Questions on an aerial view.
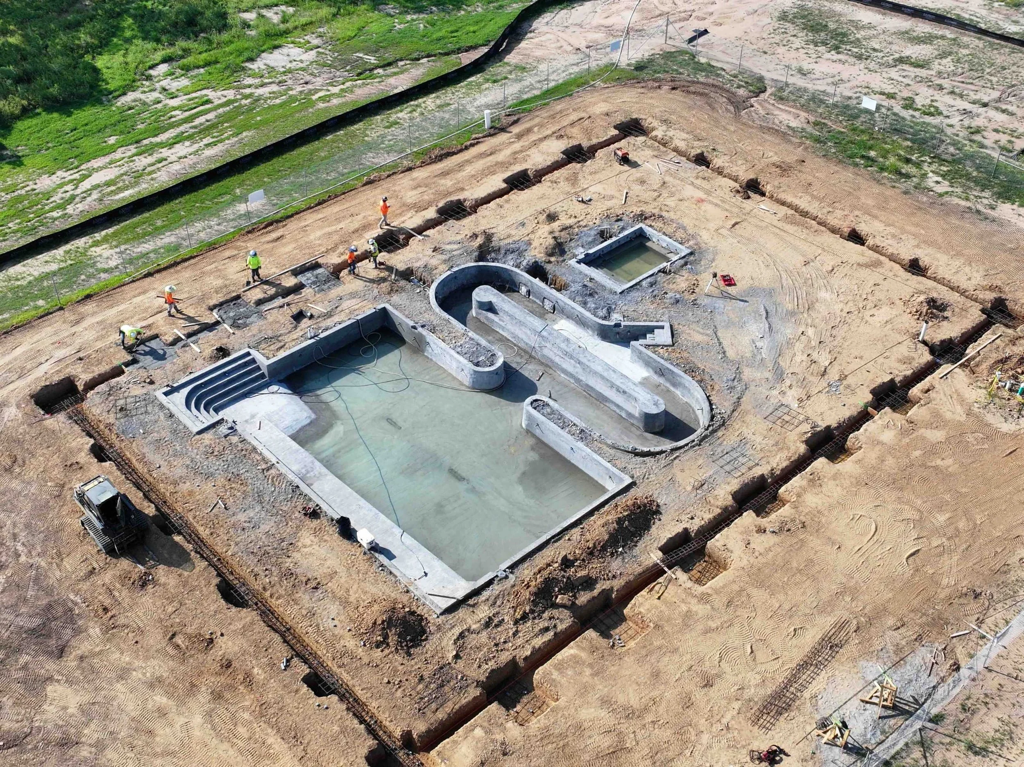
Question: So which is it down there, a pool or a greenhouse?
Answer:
pool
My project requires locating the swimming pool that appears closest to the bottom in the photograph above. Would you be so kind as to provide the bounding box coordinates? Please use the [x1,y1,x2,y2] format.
[154,264,709,617]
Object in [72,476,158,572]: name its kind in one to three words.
work vehicle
